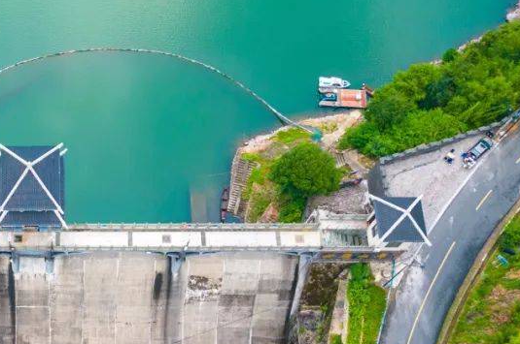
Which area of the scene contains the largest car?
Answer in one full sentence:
The largest car appears toward the right of the photo.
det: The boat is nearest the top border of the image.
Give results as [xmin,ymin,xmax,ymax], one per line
[317,74,352,86]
